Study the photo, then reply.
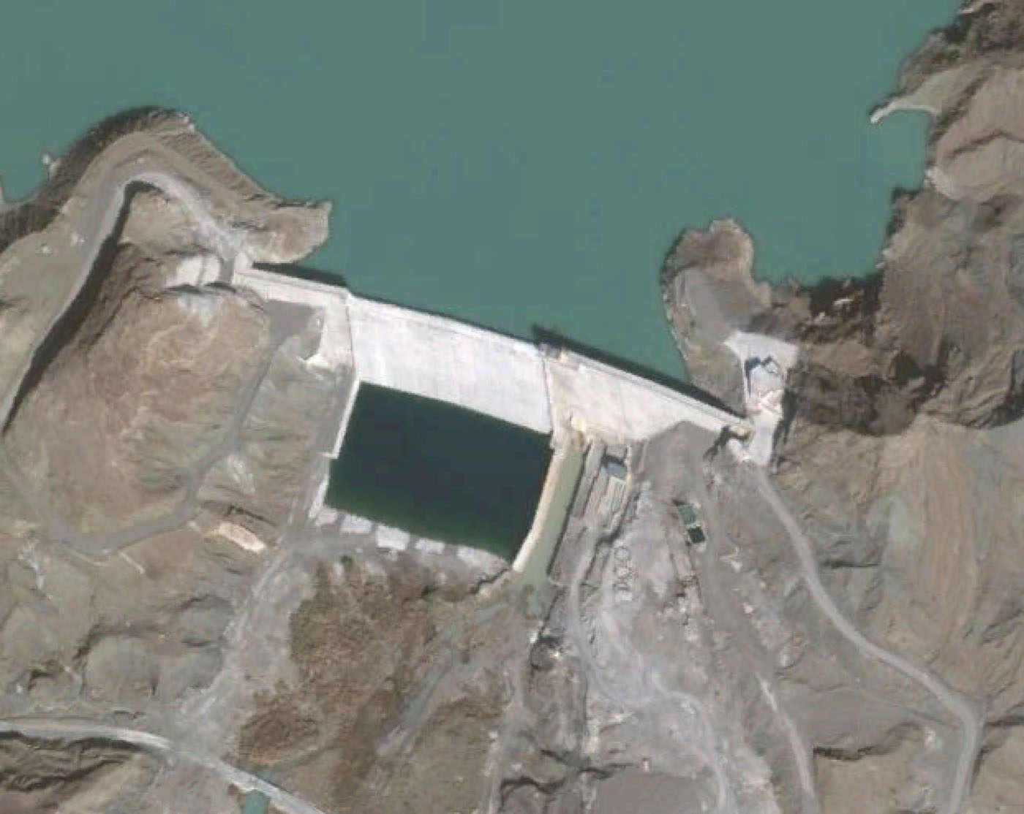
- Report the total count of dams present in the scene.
1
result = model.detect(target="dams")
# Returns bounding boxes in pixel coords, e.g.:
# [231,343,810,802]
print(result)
[232,252,749,454]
